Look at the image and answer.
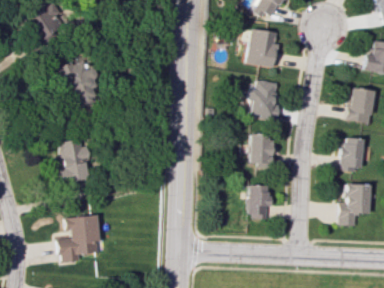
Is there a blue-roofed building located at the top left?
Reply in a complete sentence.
No, no blue-roofed building can be made out at the top left.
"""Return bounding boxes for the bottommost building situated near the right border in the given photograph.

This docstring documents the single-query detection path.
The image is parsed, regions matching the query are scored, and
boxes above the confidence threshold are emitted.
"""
[338,184,374,226]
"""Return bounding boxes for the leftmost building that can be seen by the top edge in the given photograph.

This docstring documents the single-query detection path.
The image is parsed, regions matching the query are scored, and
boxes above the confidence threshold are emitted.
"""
[35,2,64,44]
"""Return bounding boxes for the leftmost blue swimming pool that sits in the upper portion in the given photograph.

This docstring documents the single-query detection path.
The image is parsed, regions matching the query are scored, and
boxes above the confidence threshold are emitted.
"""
[214,49,228,64]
